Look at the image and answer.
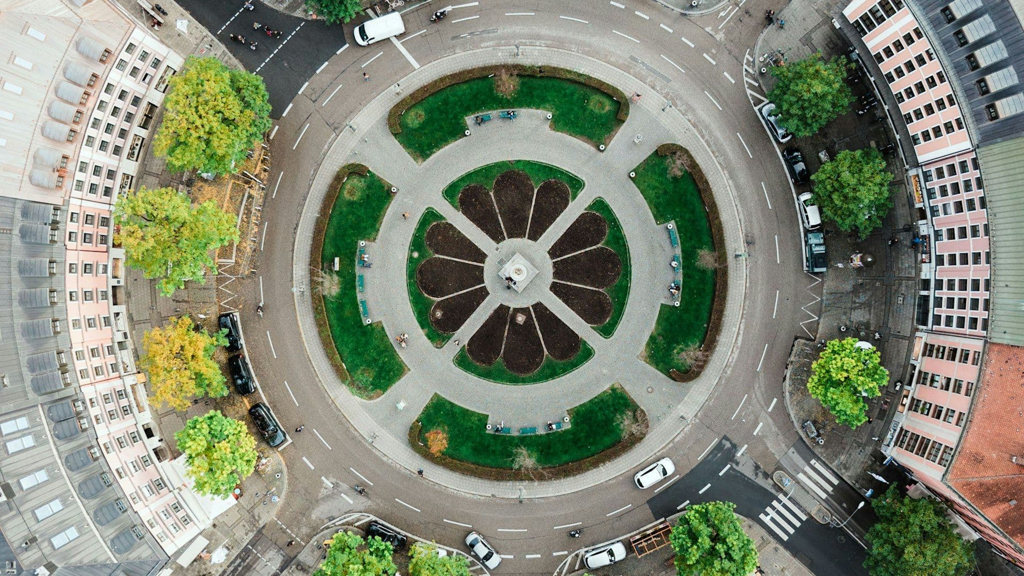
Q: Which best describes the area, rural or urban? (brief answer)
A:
urban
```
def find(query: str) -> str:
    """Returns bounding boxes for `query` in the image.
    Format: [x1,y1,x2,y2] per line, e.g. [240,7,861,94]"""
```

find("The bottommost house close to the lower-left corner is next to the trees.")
[0,373,236,576]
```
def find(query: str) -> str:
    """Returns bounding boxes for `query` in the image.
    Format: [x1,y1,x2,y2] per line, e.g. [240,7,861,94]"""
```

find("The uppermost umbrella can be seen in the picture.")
[177,18,193,35]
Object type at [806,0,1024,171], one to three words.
house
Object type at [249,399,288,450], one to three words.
car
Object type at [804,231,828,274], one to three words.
truck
